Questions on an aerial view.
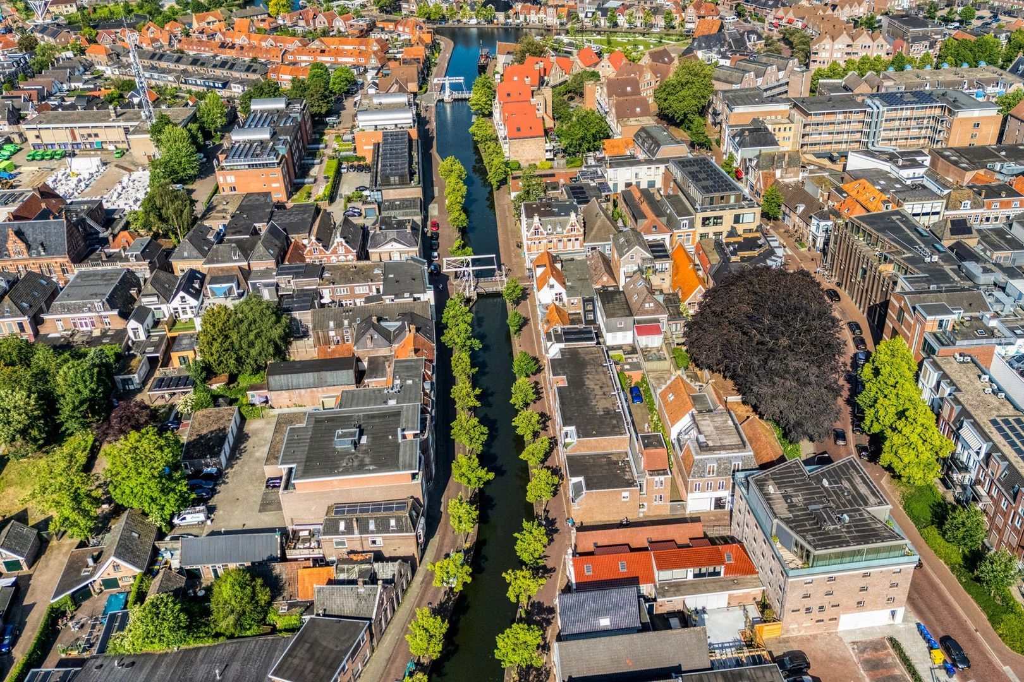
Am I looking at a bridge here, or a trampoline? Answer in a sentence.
Looking from above, you can make out a bridge.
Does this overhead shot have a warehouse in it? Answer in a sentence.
Yes, this view includes a warehouse.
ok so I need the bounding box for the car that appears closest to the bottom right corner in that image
[938,635,969,667]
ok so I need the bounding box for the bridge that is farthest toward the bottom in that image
[444,253,504,293]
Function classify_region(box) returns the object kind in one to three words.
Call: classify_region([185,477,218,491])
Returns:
car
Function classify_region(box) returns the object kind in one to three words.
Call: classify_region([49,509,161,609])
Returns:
house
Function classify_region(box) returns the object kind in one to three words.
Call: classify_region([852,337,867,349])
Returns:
vehicle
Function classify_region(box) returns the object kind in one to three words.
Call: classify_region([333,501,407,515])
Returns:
solar panel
